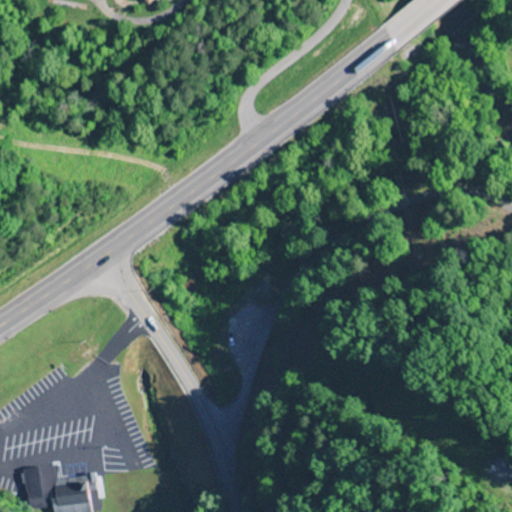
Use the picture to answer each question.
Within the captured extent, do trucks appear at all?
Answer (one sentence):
Yes, looking at the shot, I can spot a truck.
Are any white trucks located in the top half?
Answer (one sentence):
Yes, a white truck shows up in the top half.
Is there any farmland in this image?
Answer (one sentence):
No, there's no farmland in this view.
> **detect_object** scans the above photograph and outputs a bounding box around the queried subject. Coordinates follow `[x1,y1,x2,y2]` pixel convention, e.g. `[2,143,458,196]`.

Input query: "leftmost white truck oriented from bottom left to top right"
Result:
[355,37,398,72]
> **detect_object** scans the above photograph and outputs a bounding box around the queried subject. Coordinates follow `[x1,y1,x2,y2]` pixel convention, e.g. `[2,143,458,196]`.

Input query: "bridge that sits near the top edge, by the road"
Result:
[380,0,462,52]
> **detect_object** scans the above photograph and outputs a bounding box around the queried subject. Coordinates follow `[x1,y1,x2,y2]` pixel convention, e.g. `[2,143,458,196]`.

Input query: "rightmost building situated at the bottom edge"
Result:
[54,482,92,512]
